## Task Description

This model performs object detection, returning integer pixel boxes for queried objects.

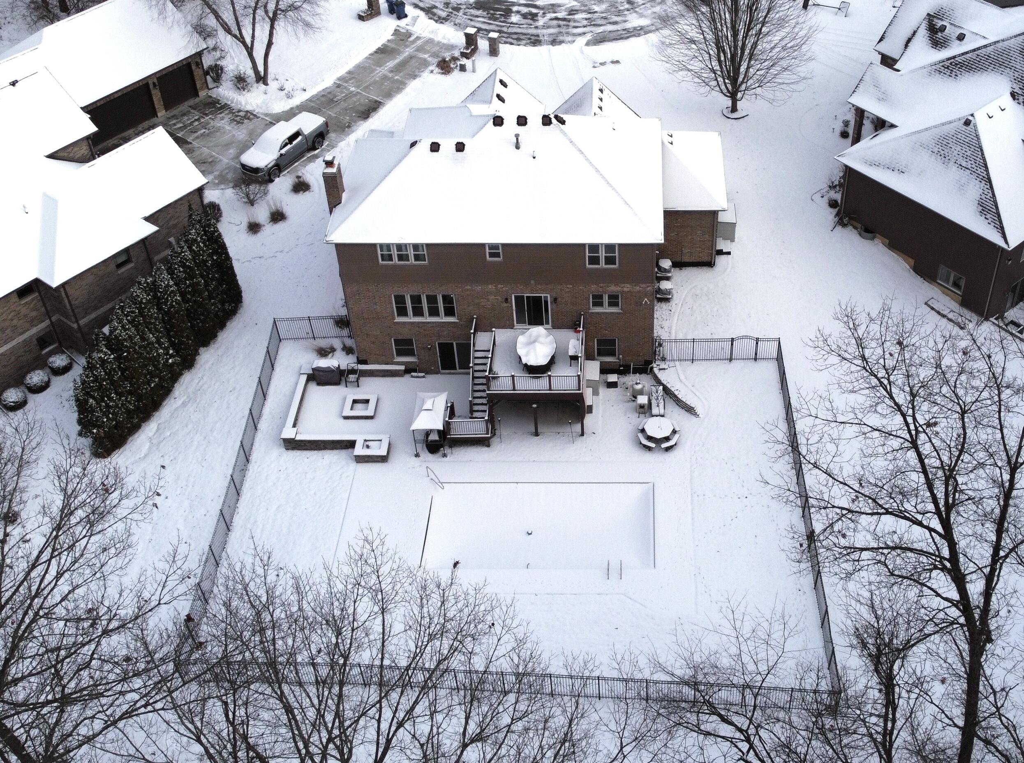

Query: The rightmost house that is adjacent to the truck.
[322,69,666,376]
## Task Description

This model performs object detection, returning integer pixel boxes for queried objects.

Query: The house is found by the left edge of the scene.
[0,0,211,390]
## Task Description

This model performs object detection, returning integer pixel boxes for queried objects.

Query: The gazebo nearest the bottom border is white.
[409,392,451,464]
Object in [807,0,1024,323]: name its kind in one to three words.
house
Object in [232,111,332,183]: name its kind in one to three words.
truck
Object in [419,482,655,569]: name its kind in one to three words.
swimming pool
